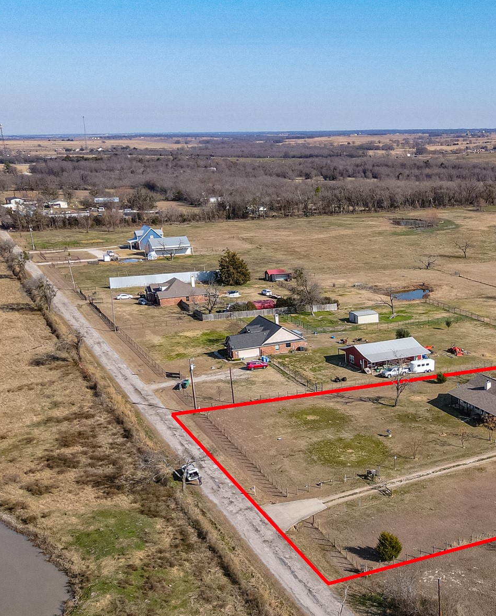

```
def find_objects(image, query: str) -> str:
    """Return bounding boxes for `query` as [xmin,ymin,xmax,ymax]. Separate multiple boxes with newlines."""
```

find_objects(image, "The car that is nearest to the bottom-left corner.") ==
[181,465,199,481]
